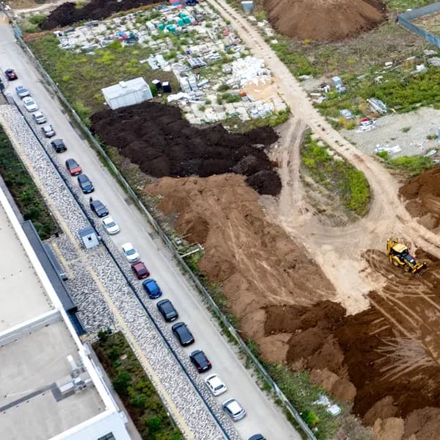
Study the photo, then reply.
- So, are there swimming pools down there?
No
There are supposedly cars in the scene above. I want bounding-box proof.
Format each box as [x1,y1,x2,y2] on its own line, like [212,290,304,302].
[15,85,29,97]
[190,350,211,372]
[131,262,149,279]
[88,196,107,216]
[222,399,247,425]
[172,323,194,345]
[102,216,119,234]
[65,159,80,175]
[204,375,229,399]
[121,244,139,262]
[5,69,17,79]
[51,138,65,153]
[77,176,93,192]
[32,110,46,123]
[23,99,37,110]
[140,278,161,299]
[155,296,178,321]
